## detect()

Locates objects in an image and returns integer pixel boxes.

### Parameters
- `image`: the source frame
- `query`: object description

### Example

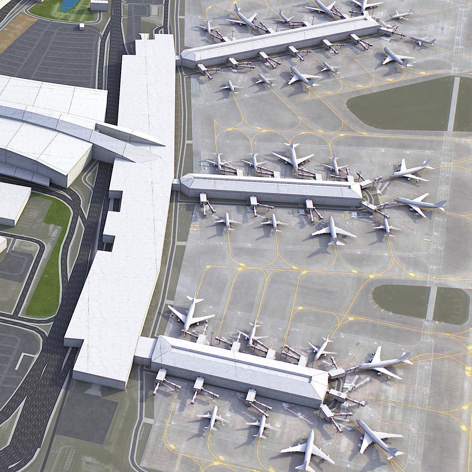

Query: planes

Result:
[274,12,292,26]
[324,63,341,74]
[168,296,215,331]
[239,320,269,346]
[289,67,322,87]
[245,415,277,438]
[394,194,444,217]
[281,430,335,470]
[273,144,314,173]
[215,213,241,230]
[357,419,404,457]
[384,49,417,67]
[222,81,244,93]
[310,335,339,358]
[261,215,289,231]
[206,153,232,170]
[411,37,436,46]
[196,407,228,429]
[357,348,412,379]
[322,154,348,174]
[390,160,431,182]
[197,21,219,34]
[392,9,414,20]
[353,0,384,10]
[375,219,401,235]
[304,0,335,17]
[241,151,267,170]
[312,217,356,244]
[226,5,256,29]
[257,74,279,86]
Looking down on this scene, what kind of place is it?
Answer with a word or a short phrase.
airport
